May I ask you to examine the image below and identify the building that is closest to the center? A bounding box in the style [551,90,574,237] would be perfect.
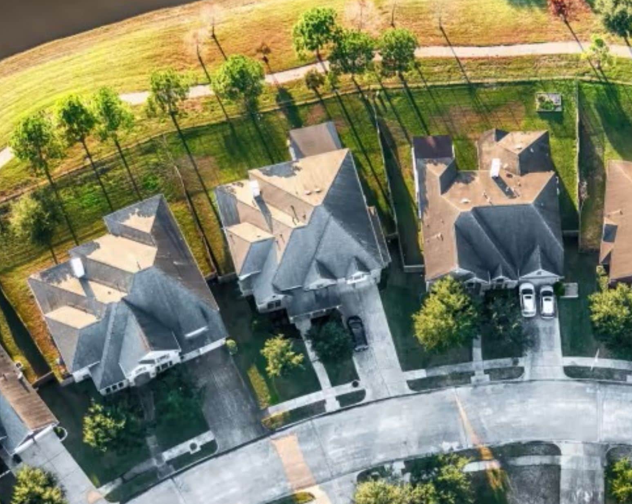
[214,122,390,327]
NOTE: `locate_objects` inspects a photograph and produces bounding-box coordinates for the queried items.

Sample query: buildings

[411,129,564,289]
[28,194,227,397]
[0,345,60,460]
[600,160,632,291]
[214,122,390,327]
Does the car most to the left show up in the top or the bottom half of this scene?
bottom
